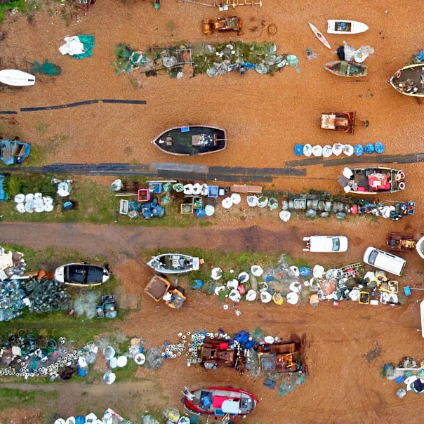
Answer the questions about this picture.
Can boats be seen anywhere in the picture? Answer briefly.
Yes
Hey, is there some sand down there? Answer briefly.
Yes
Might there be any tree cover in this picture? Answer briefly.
No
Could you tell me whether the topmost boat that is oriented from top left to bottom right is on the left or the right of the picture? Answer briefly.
right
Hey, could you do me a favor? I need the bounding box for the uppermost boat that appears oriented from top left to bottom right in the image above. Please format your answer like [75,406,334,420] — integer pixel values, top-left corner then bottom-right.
[308,22,331,49]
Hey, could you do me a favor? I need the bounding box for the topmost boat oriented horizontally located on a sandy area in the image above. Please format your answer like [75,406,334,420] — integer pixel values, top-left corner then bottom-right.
[328,20,369,35]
